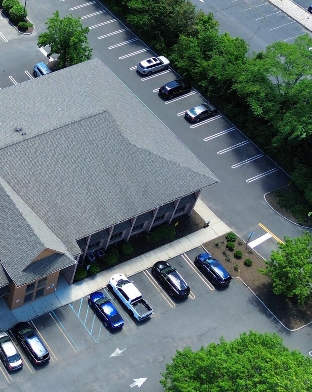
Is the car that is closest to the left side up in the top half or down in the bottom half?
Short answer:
bottom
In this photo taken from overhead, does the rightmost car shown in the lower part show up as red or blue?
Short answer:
blue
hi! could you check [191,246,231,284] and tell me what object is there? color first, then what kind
blue car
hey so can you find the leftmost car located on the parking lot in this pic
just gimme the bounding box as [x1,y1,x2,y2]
[0,329,27,372]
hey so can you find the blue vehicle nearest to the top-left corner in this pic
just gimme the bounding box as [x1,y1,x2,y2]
[30,61,51,77]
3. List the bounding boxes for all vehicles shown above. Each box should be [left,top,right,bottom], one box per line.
[90,287,130,328]
[0,329,27,372]
[137,56,172,75]
[191,246,231,284]
[11,318,51,364]
[107,272,153,321]
[161,77,197,97]
[150,260,191,301]
[30,61,51,77]
[185,101,221,122]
